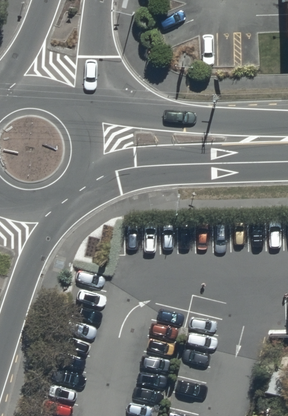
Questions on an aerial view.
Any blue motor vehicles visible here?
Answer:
Yes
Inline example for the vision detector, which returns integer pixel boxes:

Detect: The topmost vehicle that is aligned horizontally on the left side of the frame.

[76,272,105,288]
